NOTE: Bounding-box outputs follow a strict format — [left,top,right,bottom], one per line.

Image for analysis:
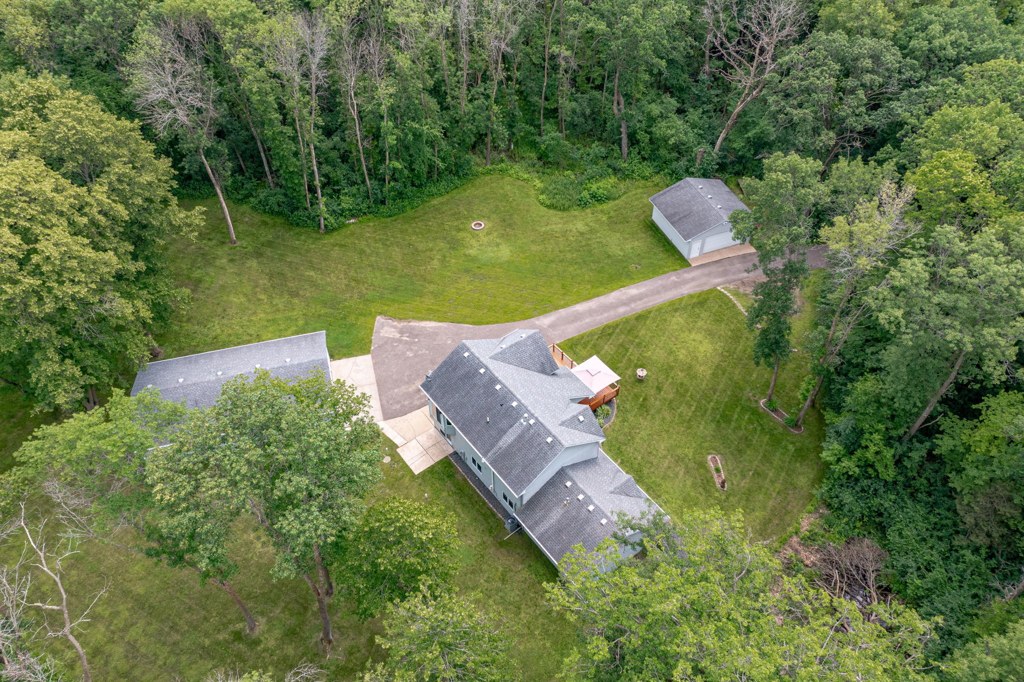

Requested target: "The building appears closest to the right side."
[648,178,761,258]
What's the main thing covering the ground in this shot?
trees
